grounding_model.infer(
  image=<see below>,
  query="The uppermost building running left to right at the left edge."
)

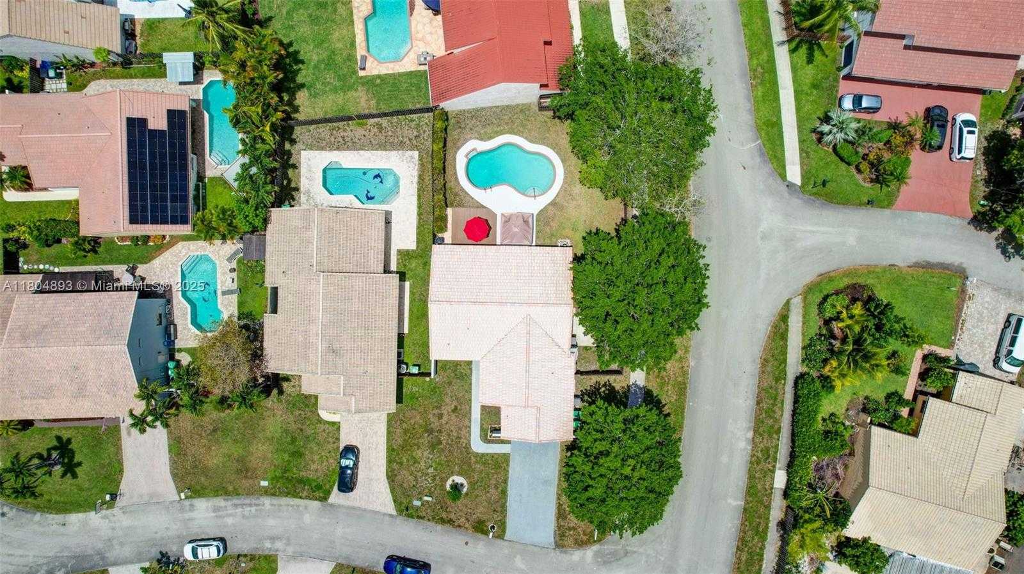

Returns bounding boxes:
[0,0,131,60]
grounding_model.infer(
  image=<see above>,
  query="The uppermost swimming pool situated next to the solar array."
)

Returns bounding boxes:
[200,77,242,167]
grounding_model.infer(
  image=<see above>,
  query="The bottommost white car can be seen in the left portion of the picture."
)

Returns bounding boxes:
[181,537,229,564]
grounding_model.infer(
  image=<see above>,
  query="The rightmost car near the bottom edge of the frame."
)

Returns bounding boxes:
[384,553,432,574]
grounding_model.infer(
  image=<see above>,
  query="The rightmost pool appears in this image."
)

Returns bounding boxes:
[464,141,557,198]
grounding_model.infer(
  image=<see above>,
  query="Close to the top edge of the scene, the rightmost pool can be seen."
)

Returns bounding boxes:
[362,0,413,64]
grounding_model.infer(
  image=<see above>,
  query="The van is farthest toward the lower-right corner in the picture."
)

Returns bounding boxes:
[995,315,1024,372]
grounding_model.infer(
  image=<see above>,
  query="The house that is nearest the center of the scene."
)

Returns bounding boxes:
[427,243,575,444]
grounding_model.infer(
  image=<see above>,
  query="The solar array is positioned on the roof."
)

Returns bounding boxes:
[126,109,189,224]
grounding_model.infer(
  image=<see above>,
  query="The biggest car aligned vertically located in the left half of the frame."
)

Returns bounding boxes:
[336,444,359,494]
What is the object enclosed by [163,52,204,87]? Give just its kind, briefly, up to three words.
shed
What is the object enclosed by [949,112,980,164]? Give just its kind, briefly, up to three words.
car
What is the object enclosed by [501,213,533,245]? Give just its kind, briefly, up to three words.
gazebo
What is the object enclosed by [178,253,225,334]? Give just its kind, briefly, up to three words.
swimming pool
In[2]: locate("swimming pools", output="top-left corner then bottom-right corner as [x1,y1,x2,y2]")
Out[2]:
[464,141,557,198]
[320,159,402,207]
[362,0,413,64]
[178,253,225,334]
[200,77,242,167]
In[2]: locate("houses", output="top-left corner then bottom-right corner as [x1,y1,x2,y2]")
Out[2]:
[428,0,573,109]
[427,243,575,444]
[839,0,1024,92]
[0,0,131,60]
[263,207,400,413]
[0,89,200,235]
[832,371,1024,574]
[0,275,168,420]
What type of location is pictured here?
residential area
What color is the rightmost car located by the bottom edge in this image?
blue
